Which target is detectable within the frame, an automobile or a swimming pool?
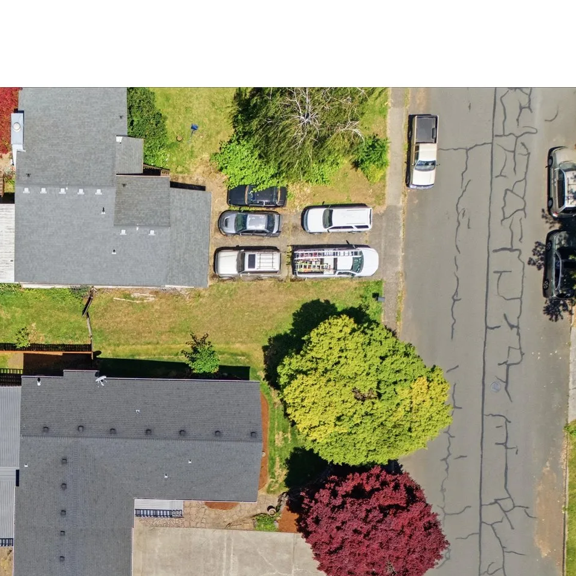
automobile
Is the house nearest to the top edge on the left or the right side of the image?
left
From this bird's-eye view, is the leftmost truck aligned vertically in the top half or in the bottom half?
top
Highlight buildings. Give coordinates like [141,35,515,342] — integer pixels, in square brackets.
[12,370,262,576]
[10,84,212,290]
